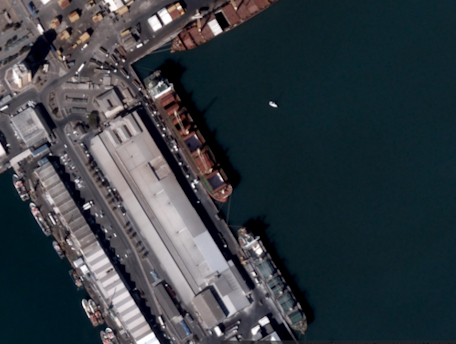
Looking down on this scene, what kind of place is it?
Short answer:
port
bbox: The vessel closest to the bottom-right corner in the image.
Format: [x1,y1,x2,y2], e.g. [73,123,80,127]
[236,226,306,334]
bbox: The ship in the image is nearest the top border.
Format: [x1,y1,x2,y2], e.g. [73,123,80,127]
[170,0,283,55]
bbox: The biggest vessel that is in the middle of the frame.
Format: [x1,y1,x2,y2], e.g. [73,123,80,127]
[144,71,229,203]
